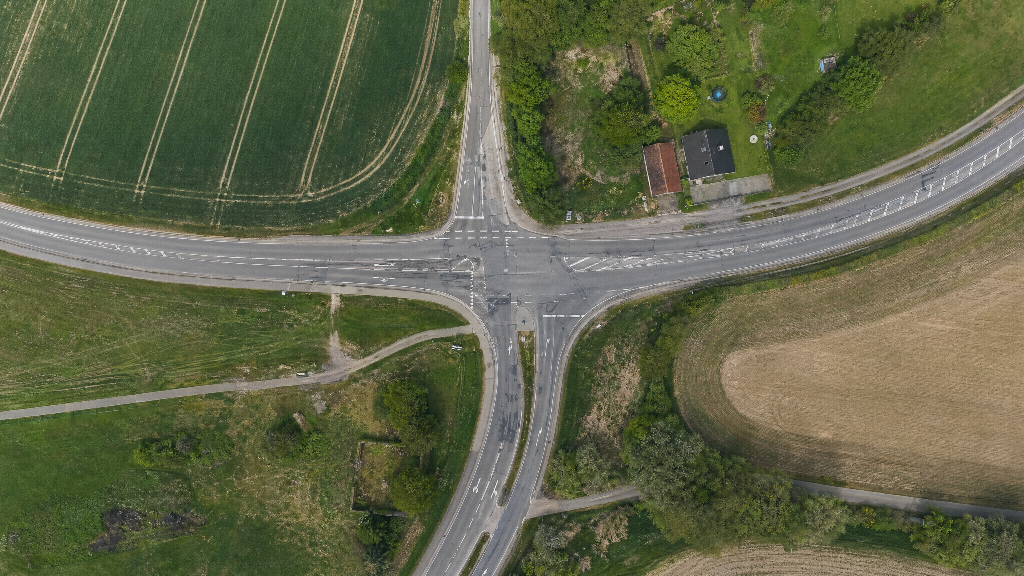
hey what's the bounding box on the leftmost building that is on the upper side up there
[643,142,682,197]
